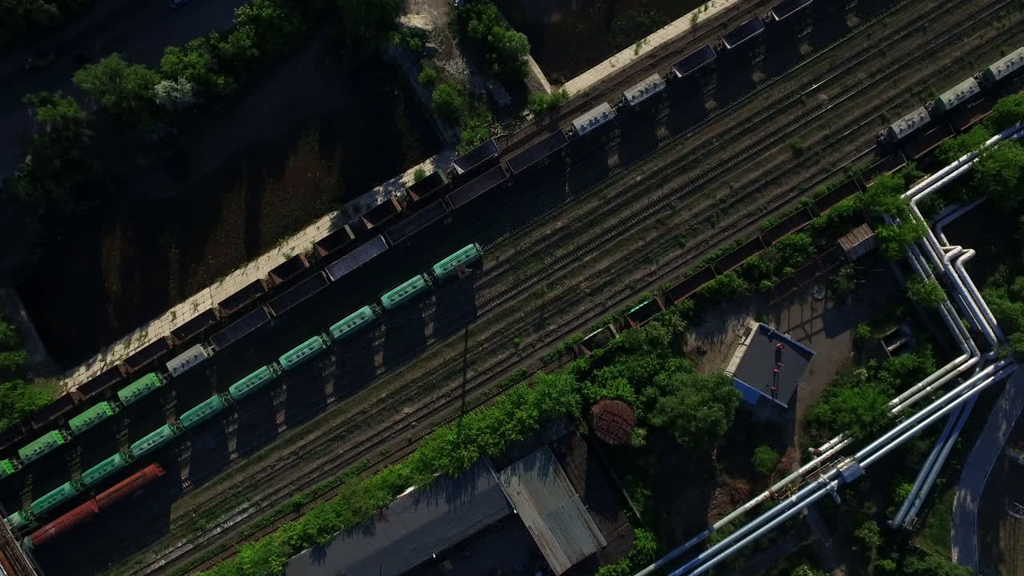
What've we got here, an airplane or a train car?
train car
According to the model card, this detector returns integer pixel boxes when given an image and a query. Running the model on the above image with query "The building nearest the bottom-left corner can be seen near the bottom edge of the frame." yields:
[282,454,514,576]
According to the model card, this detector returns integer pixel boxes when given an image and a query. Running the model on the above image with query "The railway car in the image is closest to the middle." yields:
[432,241,485,280]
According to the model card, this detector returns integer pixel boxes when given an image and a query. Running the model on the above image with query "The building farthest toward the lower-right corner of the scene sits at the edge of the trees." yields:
[724,322,816,408]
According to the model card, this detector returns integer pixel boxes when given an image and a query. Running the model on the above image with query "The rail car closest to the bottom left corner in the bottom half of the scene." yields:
[0,503,41,537]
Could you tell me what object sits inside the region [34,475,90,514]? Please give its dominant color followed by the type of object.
green rail car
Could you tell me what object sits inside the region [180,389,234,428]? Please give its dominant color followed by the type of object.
green rail car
